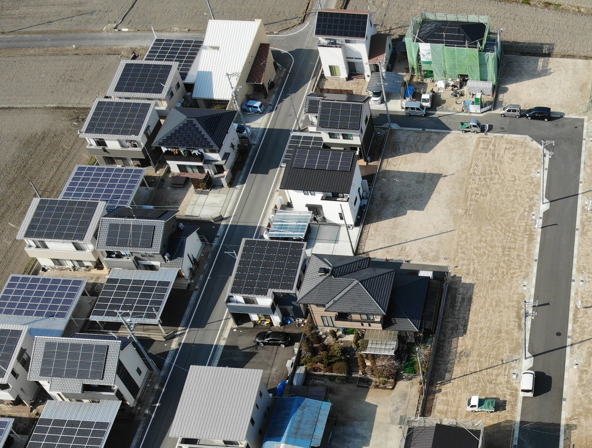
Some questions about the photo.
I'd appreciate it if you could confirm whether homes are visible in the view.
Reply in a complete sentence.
Yes, I can see a home in this picture.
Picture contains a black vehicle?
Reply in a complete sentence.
Yes, the photo shows a black vehicle.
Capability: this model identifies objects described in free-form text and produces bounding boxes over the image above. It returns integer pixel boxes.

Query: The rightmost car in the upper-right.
[525,104,554,120]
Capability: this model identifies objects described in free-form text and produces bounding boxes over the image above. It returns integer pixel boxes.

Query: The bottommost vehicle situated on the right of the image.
[467,396,495,412]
